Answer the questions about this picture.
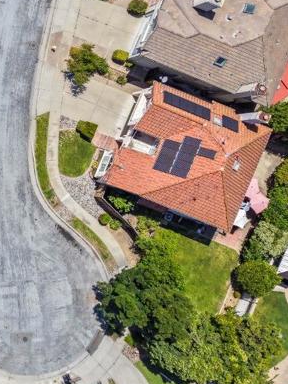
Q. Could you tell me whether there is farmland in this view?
No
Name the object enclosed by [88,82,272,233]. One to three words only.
house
